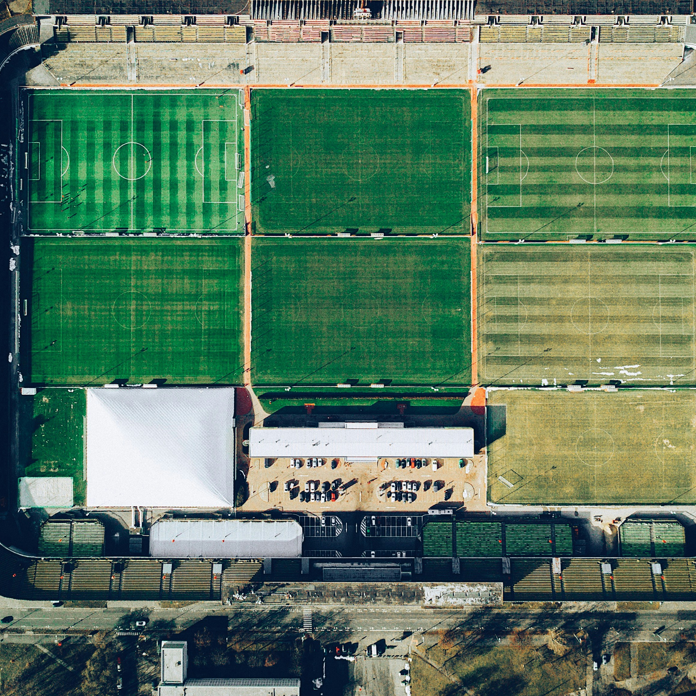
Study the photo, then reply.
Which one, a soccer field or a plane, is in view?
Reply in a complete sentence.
This aerial view contains a soccer field.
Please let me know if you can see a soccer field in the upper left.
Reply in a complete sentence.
Yes, in the upper left there is a soccer field.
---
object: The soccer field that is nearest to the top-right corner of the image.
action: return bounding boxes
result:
[477,89,696,242]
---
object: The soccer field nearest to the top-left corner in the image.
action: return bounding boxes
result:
[21,88,245,235]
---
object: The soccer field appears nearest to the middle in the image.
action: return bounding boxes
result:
[252,236,471,387]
